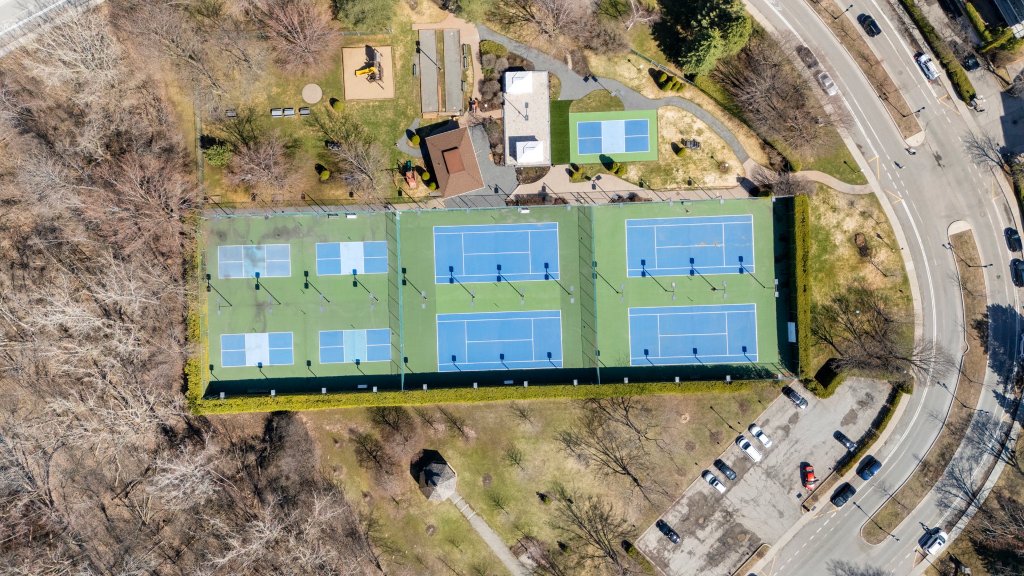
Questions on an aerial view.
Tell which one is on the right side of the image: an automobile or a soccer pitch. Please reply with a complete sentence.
It is an automobile that can be seen on the right side of the image.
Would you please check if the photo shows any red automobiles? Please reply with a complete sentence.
Yes, there is a red automobile in the image.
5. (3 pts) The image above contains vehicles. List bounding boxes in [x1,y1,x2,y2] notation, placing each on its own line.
[916,53,946,82]
[831,485,857,508]
[1019,333,1024,358]
[834,430,857,452]
[922,529,949,555]
[657,520,679,542]
[1003,226,1021,253]
[802,465,819,490]
[796,45,818,71]
[703,470,726,493]
[961,50,981,75]
[857,455,883,478]
[860,14,882,39]
[782,386,807,409]
[736,436,762,462]
[712,458,736,481]
[817,72,838,97]
[748,424,772,447]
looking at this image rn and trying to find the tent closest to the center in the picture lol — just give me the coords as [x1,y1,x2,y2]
[517,141,544,165]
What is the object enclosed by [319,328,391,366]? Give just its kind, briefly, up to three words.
sports court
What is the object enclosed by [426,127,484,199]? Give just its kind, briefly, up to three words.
building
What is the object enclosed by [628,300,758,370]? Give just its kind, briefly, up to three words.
tennis court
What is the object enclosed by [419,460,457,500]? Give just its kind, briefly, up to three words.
gazebo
